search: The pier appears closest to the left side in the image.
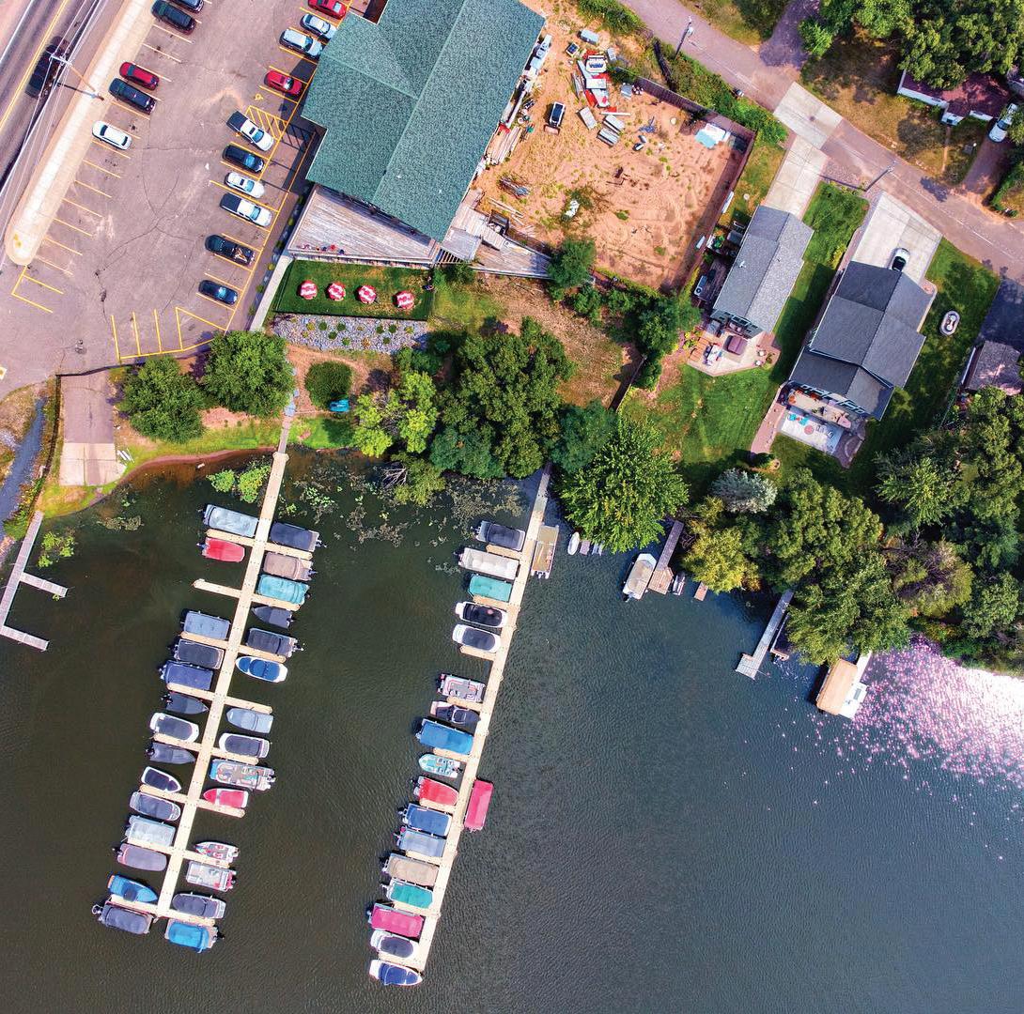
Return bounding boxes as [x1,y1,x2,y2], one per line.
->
[0,514,69,651]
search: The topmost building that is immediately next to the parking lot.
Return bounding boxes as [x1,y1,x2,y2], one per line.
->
[300,0,546,242]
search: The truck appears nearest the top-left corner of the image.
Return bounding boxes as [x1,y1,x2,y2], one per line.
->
[20,38,60,95]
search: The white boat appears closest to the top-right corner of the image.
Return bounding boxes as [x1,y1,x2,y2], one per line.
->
[941,311,960,334]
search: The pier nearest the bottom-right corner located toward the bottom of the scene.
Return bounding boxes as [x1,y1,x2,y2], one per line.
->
[844,650,876,720]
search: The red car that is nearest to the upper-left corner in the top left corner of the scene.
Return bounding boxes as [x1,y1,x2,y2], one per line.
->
[118,60,157,88]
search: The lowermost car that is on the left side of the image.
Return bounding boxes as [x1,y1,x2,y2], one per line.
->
[197,278,236,304]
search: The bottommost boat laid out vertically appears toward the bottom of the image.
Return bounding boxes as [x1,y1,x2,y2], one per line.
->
[466,781,493,834]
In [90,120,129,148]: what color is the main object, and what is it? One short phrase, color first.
white car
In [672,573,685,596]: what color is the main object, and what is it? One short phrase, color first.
white vessel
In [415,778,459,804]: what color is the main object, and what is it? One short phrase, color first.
red boat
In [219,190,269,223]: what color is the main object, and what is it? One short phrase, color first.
white truck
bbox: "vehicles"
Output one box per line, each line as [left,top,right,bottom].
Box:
[90,120,129,148]
[545,98,566,132]
[221,141,263,171]
[306,0,346,18]
[263,68,301,94]
[219,190,269,223]
[118,60,157,88]
[20,38,60,95]
[889,247,911,273]
[223,170,263,197]
[224,107,272,147]
[150,0,195,29]
[197,278,236,304]
[108,78,154,109]
[298,9,337,38]
[167,0,203,13]
[203,233,253,263]
[278,25,320,55]
[531,26,558,66]
[522,95,536,109]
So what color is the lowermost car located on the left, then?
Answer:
blue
